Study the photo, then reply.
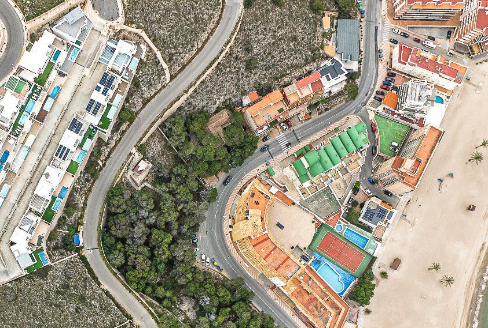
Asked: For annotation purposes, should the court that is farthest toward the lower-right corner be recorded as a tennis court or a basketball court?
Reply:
tennis court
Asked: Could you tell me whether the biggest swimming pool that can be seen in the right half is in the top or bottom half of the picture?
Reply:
bottom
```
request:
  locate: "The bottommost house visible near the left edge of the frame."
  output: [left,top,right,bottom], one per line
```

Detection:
[10,240,37,270]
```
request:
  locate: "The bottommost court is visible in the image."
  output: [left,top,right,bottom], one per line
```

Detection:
[308,223,375,277]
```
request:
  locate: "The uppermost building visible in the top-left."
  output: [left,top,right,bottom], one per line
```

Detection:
[51,5,92,49]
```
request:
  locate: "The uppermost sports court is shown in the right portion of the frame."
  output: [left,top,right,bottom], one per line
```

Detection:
[299,186,343,219]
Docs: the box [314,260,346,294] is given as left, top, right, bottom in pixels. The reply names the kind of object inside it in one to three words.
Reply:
swimming pool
